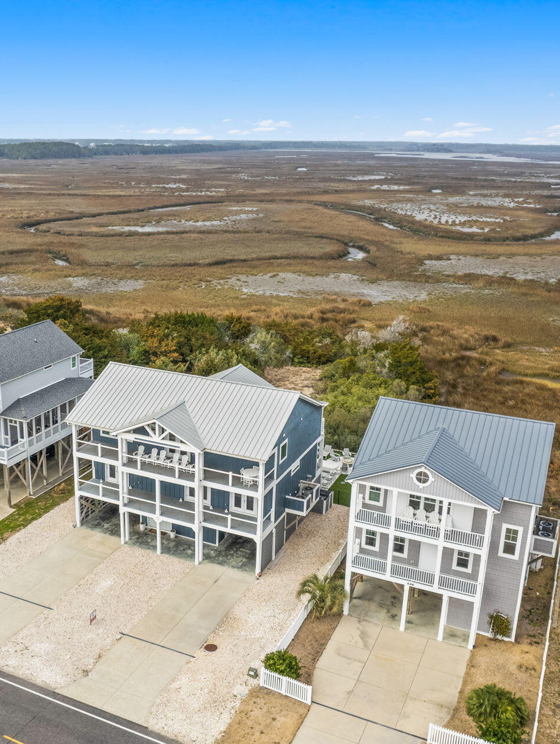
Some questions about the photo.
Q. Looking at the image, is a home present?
Yes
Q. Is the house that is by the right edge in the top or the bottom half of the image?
bottom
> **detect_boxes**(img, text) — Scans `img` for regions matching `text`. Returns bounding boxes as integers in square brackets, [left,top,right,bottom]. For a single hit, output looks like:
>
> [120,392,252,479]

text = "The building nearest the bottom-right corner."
[344,395,560,649]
